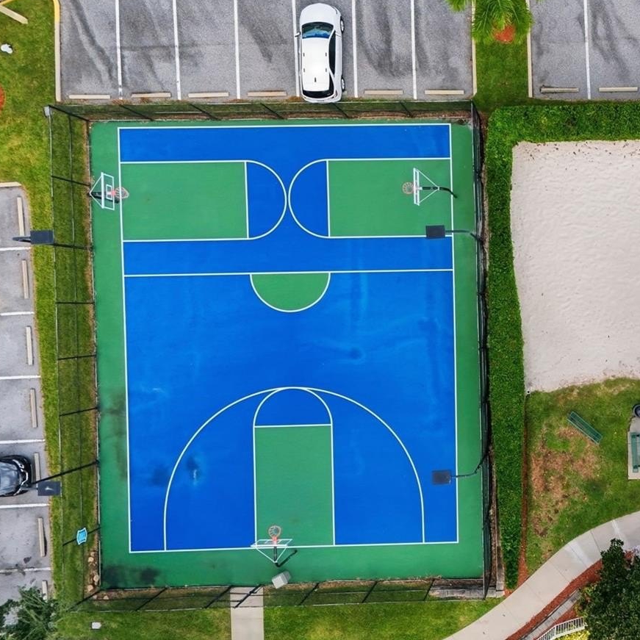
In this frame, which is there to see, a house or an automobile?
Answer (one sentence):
Looking from above, you can make out an automobile.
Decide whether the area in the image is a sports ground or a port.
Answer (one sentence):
What you see here is a sports ground.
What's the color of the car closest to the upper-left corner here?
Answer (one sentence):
From above, the car closest to the upper-left corner appears white.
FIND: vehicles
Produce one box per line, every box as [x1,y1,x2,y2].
[290,3,344,102]
[0,453,34,498]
